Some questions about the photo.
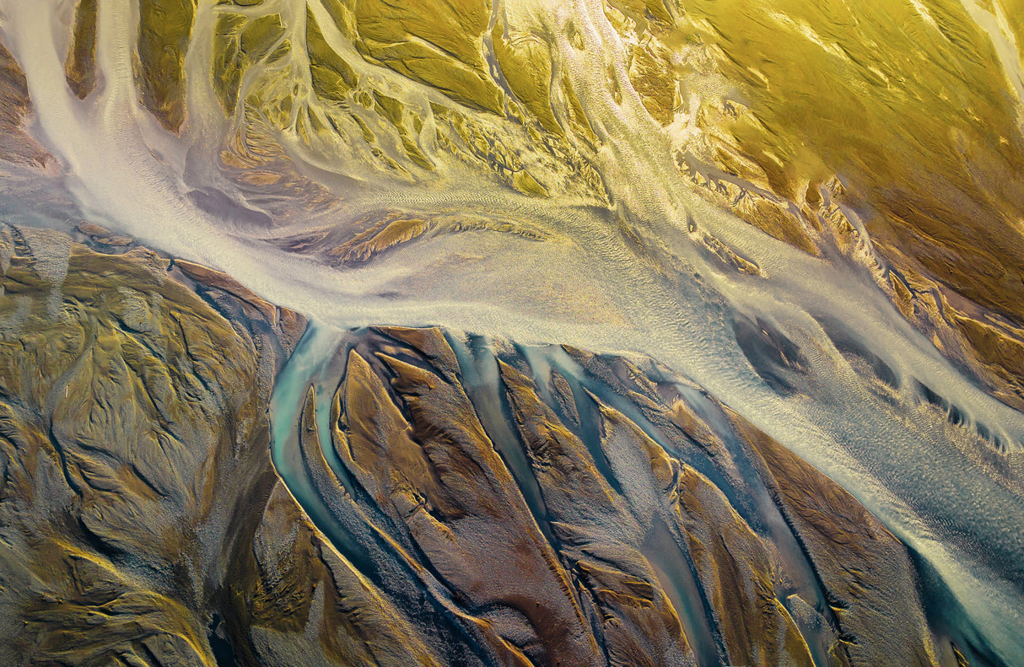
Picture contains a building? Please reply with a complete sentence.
No, I can see no building in this picture.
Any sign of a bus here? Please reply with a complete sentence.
No, this view has no bus in it.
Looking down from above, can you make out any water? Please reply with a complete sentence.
Yes, some water is visible.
